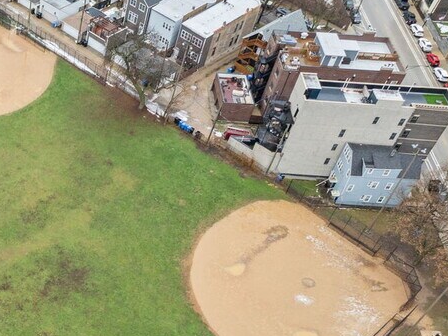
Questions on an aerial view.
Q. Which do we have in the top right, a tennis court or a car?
car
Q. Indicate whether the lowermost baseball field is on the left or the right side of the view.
right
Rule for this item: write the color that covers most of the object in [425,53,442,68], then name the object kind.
red car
